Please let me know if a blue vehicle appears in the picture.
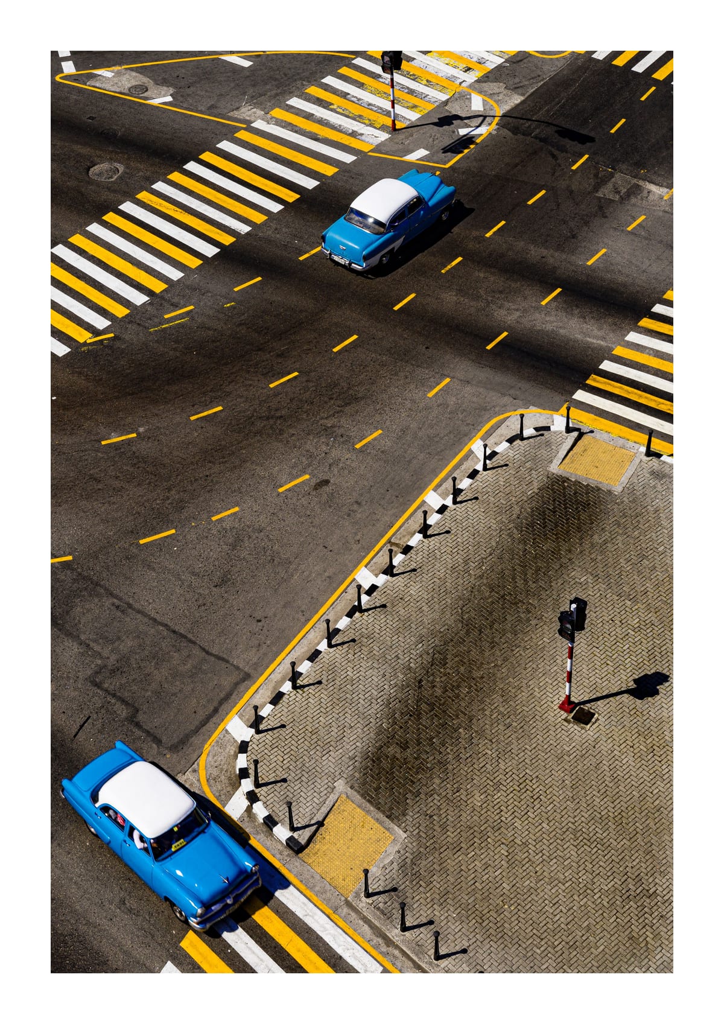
Yes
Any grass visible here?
No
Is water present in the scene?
No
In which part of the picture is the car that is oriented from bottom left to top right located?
top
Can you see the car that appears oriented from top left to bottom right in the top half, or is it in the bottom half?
bottom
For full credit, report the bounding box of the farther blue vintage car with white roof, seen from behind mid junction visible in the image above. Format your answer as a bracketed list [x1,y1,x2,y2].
[317,171,464,273]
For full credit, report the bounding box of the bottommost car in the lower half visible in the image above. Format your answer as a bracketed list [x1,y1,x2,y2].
[55,742,267,932]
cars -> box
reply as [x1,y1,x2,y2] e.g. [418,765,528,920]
[55,742,267,932]
[317,171,464,273]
